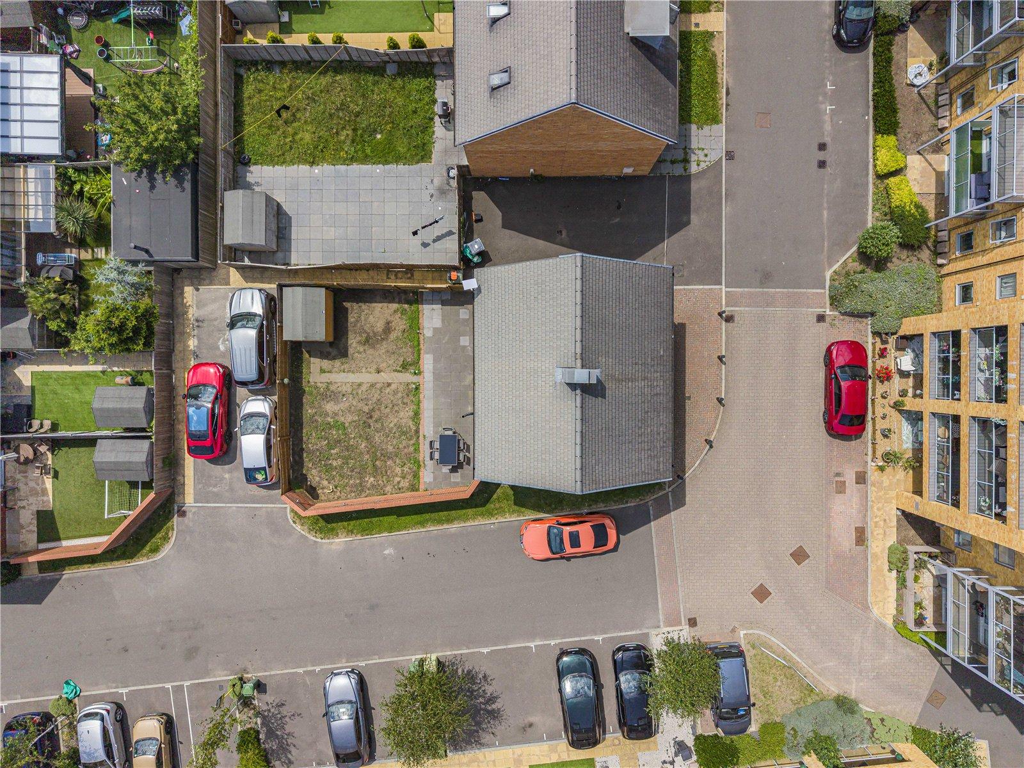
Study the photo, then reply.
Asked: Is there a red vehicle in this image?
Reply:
Yes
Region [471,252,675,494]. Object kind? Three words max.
house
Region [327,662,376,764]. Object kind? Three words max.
car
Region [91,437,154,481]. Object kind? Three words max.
shed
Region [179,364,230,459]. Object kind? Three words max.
car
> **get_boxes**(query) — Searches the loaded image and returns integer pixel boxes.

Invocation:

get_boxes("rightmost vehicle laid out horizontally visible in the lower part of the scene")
[519,516,617,563]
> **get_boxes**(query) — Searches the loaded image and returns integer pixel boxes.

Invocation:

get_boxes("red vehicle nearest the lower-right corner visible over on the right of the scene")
[824,340,874,436]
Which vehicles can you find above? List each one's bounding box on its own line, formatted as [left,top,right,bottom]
[127,702,180,768]
[519,516,617,563]
[79,689,131,768]
[613,635,658,738]
[233,397,276,483]
[179,364,230,459]
[835,0,884,49]
[560,642,605,746]
[327,662,376,764]
[226,288,276,387]
[824,340,874,436]
[706,637,756,732]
